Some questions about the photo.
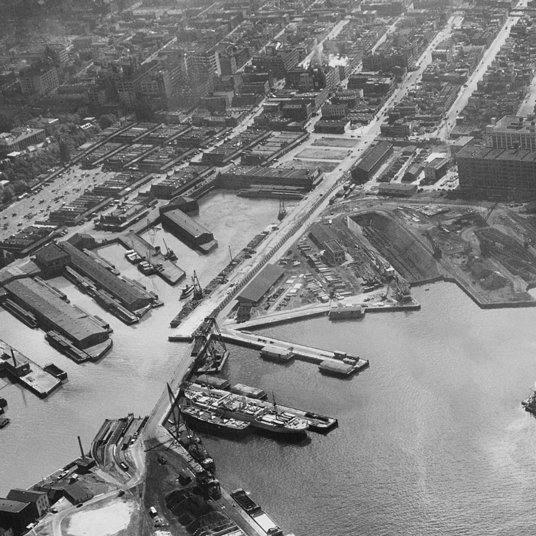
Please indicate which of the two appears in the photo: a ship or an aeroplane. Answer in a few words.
ship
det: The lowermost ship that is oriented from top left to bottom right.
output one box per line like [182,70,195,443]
[251,511,282,535]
